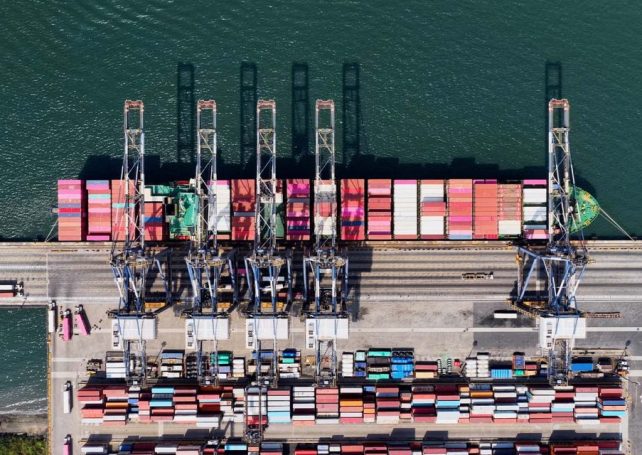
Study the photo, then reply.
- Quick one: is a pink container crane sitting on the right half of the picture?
No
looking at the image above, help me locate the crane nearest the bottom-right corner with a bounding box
[502,100,587,385]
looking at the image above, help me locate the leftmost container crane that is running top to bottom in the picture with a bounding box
[106,100,186,385]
